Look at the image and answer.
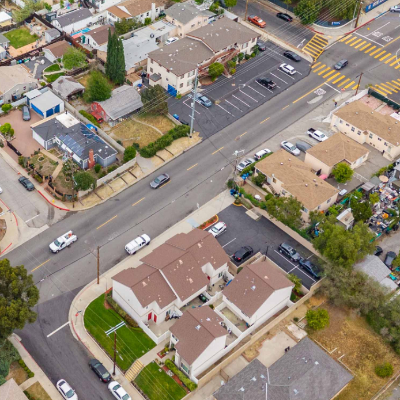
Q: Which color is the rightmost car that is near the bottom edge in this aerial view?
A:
white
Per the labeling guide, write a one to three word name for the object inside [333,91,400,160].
house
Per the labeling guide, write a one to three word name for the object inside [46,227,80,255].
truck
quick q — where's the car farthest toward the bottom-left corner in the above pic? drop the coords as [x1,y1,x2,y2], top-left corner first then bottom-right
[52,378,80,400]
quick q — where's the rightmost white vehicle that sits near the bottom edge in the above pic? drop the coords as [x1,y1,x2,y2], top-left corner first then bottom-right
[106,380,133,400]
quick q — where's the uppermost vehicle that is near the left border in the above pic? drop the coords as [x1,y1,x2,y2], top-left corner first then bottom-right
[17,106,34,121]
